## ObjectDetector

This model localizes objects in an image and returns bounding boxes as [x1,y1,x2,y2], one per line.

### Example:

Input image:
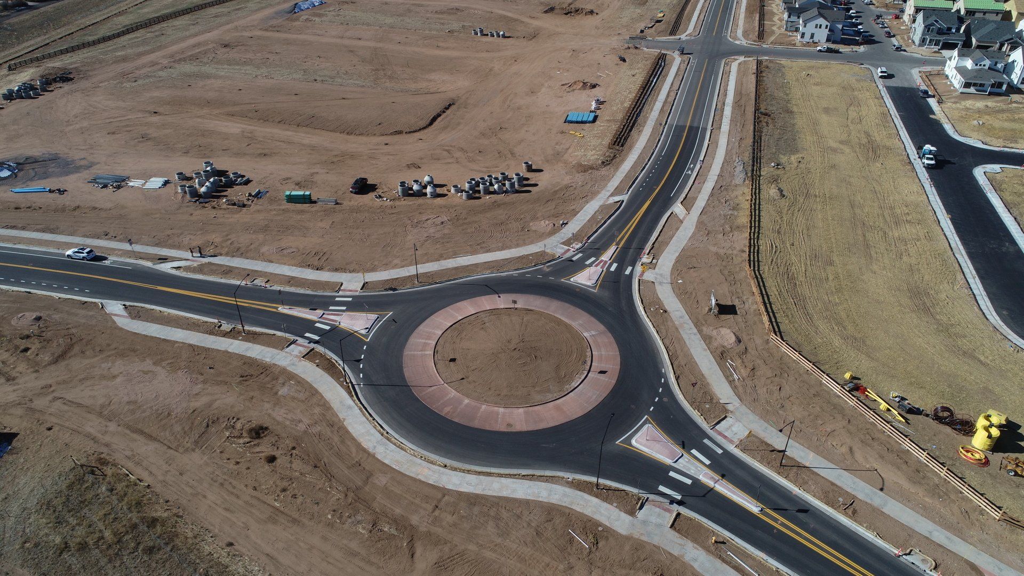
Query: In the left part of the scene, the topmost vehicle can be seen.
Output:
[349,176,370,192]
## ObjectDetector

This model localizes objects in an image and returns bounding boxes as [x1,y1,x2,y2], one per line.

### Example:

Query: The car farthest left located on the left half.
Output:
[64,245,97,261]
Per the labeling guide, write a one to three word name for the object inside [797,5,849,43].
house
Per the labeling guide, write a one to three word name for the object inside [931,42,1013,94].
house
